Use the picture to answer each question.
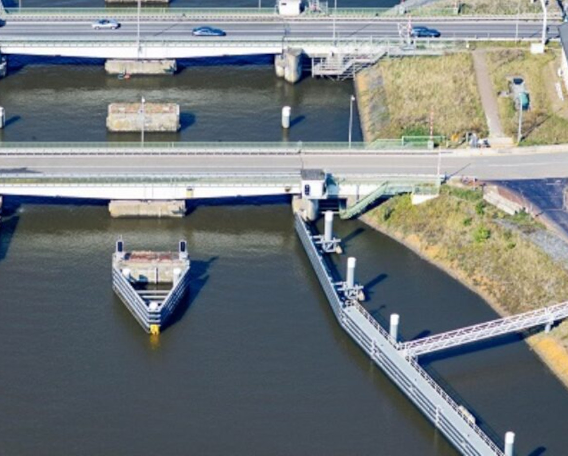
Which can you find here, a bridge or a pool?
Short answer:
bridge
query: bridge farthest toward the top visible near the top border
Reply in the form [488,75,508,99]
[0,5,484,82]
